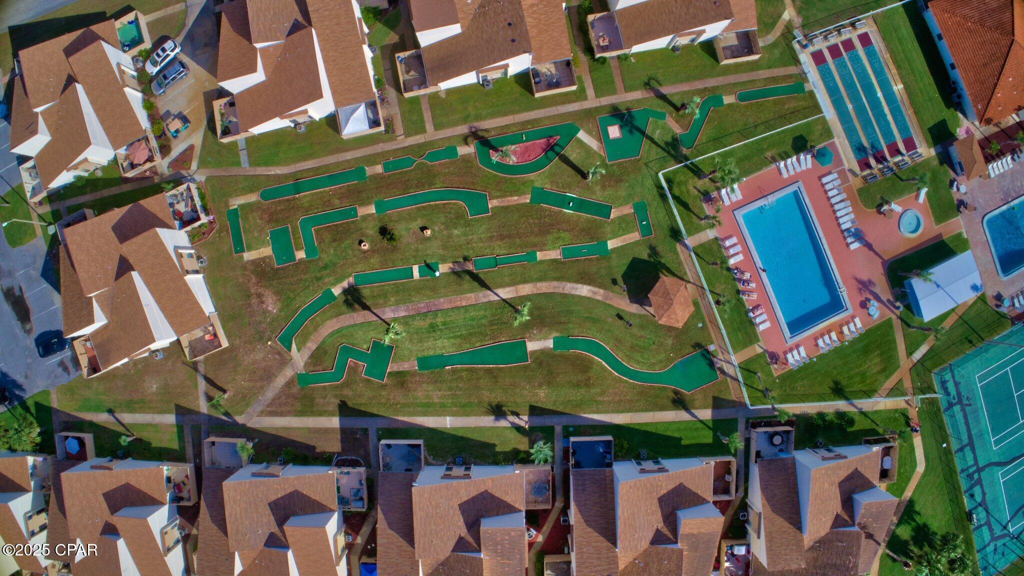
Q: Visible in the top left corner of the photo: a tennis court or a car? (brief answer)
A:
car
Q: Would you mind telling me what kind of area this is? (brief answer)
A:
residential area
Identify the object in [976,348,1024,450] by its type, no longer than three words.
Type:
tennis court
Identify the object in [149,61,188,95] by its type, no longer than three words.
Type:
car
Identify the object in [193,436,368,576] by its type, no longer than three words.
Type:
house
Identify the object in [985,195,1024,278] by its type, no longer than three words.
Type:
swimming pool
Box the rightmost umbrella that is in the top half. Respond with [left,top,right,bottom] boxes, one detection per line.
[812,145,835,169]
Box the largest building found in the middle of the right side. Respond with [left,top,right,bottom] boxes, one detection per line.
[899,250,984,322]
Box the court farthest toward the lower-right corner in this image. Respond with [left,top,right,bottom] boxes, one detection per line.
[999,458,1024,551]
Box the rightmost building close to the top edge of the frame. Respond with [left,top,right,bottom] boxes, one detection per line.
[918,0,1024,126]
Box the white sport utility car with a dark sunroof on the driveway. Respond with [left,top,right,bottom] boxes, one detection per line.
[140,36,180,72]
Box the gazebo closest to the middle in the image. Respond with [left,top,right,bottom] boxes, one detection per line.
[645,276,695,328]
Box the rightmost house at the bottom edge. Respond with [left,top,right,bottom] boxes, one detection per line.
[719,427,900,576]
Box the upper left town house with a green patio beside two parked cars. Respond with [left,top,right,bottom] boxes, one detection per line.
[9,10,162,202]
